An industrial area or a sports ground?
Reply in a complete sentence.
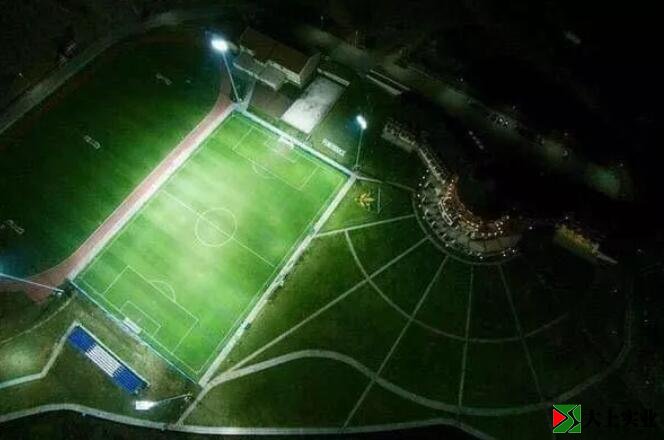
The area seen from above is a sports ground.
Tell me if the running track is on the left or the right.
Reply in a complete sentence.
The running track is on the left side of the image.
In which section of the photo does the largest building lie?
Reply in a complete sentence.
The largest building is located in the top region of the scene.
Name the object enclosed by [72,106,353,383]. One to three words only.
soccer field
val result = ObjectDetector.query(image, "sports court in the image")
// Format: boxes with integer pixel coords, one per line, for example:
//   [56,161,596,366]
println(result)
[281,77,346,135]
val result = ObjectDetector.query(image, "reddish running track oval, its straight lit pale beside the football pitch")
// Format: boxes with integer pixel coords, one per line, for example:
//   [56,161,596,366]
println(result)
[0,32,237,305]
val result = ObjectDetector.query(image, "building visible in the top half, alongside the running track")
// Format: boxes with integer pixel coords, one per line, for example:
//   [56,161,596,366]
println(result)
[231,22,320,91]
